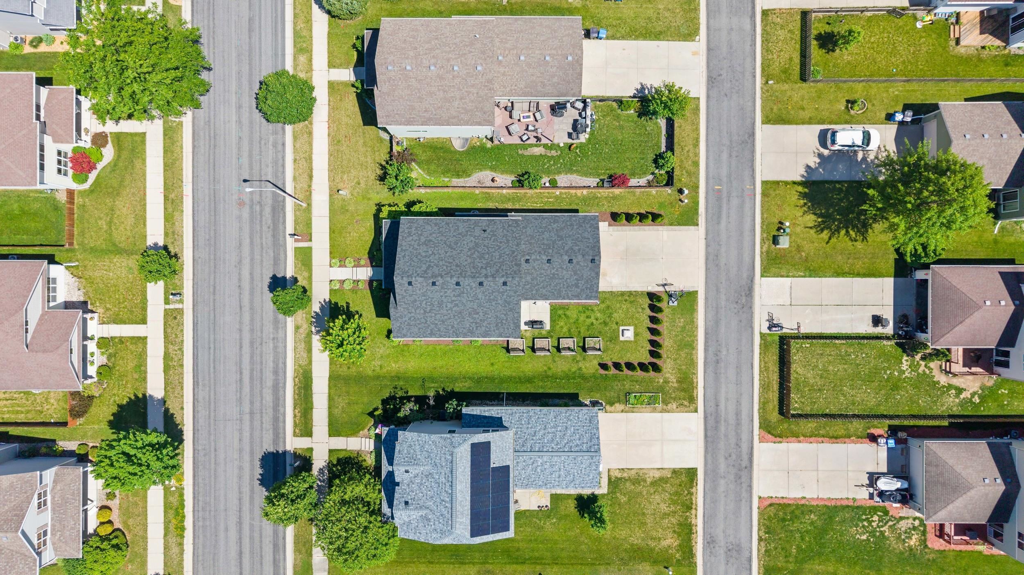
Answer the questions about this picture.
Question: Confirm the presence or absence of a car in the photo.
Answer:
Yes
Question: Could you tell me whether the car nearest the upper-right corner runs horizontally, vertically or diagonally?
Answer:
horizontally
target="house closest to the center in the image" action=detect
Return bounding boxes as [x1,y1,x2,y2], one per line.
[382,212,601,340]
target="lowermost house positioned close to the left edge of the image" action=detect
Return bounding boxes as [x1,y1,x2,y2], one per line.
[0,444,97,575]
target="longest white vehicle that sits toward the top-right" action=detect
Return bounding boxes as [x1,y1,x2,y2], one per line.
[830,125,881,149]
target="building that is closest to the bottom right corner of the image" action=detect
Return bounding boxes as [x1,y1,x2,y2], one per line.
[908,436,1024,563]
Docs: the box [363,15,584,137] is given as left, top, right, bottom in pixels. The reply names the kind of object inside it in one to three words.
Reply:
house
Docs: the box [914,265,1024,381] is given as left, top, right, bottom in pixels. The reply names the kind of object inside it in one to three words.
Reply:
house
